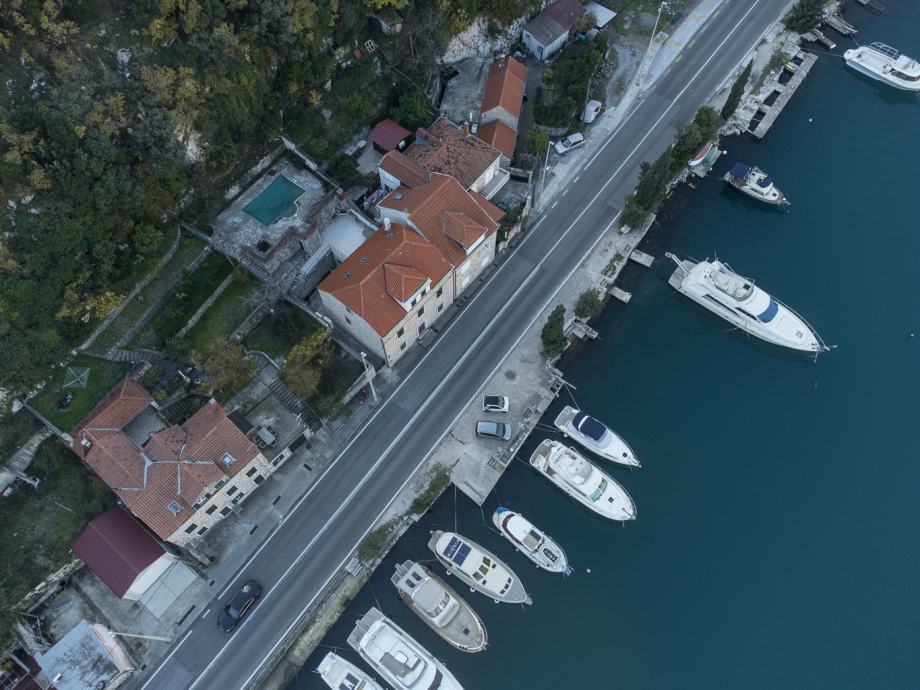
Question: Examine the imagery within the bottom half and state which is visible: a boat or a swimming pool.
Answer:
boat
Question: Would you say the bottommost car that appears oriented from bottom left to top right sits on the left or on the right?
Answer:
left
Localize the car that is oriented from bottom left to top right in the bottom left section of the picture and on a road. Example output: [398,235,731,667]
[217,580,264,633]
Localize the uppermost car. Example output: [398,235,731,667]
[579,100,606,129]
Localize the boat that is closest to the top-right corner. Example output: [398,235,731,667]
[841,48,920,103]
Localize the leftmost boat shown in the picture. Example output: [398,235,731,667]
[314,650,382,690]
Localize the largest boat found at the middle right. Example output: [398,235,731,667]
[666,244,826,361]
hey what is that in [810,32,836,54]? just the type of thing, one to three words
pier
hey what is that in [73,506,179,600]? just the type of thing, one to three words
building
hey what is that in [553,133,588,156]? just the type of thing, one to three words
car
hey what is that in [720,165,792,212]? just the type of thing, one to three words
boat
